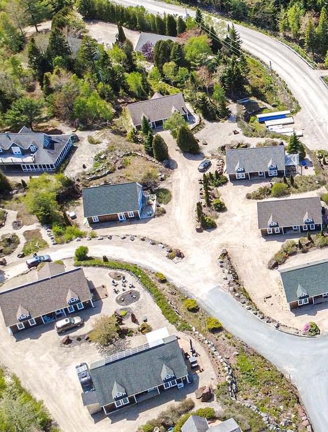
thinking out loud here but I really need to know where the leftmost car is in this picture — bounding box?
[24,251,52,266]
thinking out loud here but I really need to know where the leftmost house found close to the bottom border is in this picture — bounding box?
[81,326,190,426]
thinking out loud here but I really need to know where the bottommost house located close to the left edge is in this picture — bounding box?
[0,263,94,334]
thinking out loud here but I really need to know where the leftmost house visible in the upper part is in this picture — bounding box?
[0,119,77,179]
